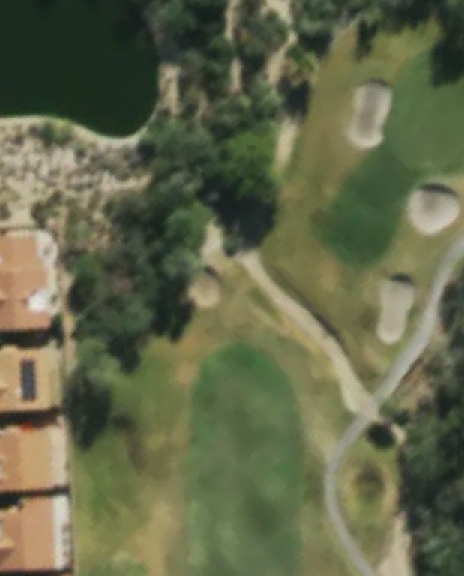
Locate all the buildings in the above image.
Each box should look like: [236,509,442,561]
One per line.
[0,344,63,412]
[0,230,60,331]
[0,423,66,493]
[0,496,71,570]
